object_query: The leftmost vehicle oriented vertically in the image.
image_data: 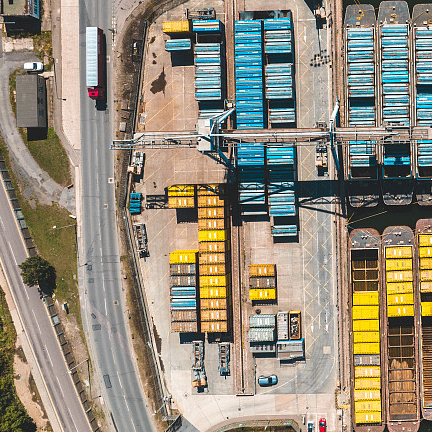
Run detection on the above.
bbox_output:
[85,23,103,97]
